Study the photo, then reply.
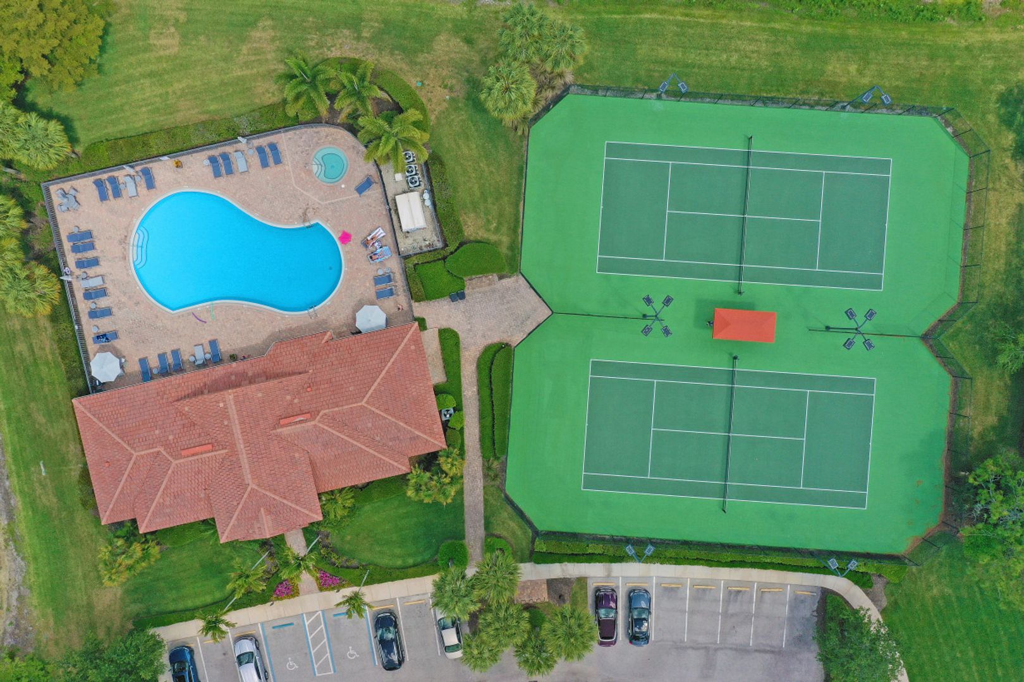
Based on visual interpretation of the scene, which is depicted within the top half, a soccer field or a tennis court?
tennis court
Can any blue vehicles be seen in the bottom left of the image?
Yes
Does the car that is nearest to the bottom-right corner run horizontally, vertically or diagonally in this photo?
vertically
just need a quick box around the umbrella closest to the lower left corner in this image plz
[93,352,123,381]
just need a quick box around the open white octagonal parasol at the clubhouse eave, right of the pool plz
[357,305,386,332]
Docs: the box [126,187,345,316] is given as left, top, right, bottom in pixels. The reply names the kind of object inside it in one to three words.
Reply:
swimming pool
